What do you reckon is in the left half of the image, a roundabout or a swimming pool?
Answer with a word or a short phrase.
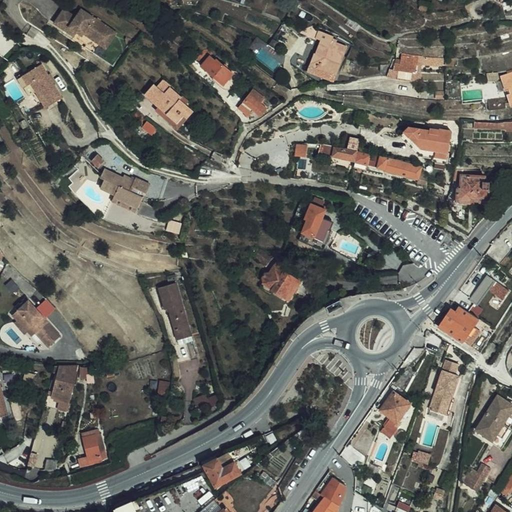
swimming pool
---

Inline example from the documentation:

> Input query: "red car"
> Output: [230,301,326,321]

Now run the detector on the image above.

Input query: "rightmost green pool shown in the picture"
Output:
[462,89,483,101]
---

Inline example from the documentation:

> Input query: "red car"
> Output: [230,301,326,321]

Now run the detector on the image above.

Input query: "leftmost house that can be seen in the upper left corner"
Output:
[16,63,61,108]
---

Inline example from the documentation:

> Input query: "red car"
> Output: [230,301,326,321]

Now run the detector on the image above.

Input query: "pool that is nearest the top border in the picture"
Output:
[255,48,281,70]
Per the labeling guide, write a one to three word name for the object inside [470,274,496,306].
shed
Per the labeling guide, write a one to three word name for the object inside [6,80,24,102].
swimming pool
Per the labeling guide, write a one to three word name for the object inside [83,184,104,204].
swimming pool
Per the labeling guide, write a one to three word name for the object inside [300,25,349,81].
house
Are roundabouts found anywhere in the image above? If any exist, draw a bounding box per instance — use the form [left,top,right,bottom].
[340,299,410,369]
